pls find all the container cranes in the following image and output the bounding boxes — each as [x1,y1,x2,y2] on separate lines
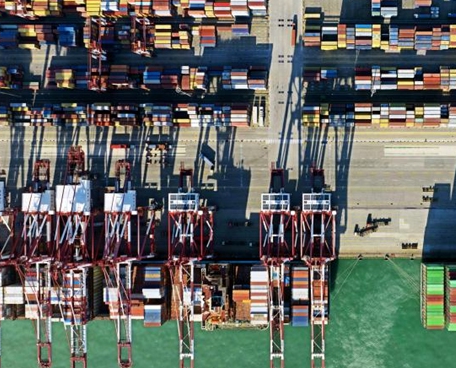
[131,16,159,60]
[48,147,126,368]
[83,91,113,132]
[299,160,345,368]
[0,180,52,263]
[97,163,169,367]
[164,160,228,368]
[258,160,304,368]
[87,16,117,60]
[9,163,96,367]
